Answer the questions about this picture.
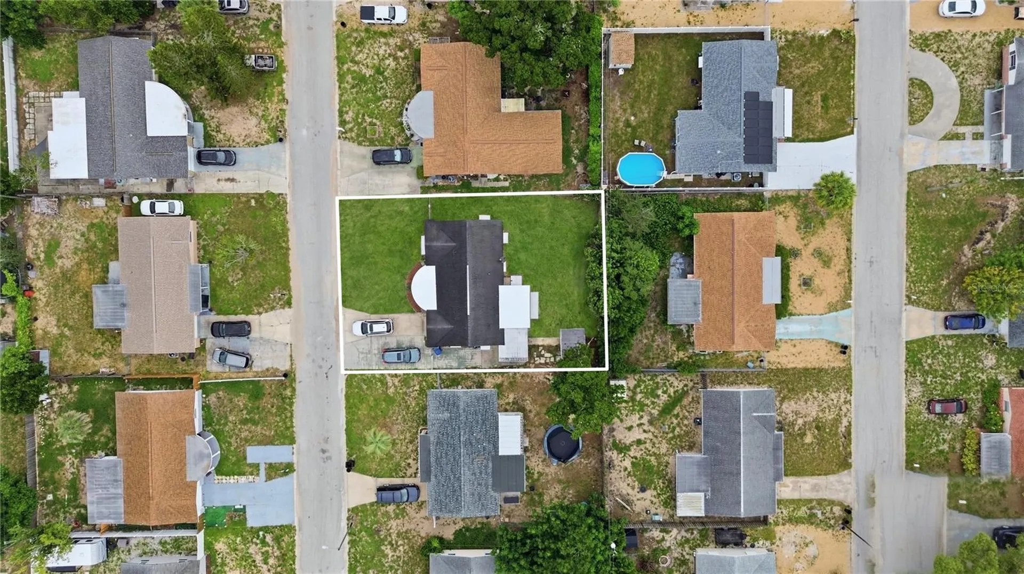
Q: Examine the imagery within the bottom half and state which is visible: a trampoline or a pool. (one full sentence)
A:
There is a trampoline within the bottom half.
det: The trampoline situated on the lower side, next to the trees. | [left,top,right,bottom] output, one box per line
[544,425,581,467]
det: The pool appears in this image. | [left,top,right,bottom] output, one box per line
[615,152,667,187]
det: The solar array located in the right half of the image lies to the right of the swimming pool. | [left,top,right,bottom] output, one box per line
[741,91,772,164]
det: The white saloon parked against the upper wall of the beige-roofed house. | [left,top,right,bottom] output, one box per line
[142,198,186,216]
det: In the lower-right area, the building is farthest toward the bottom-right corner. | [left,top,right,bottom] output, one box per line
[967,387,1024,480]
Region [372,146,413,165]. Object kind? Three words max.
car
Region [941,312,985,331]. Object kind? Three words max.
car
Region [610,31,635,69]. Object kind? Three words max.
shed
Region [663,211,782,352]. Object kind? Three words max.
house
